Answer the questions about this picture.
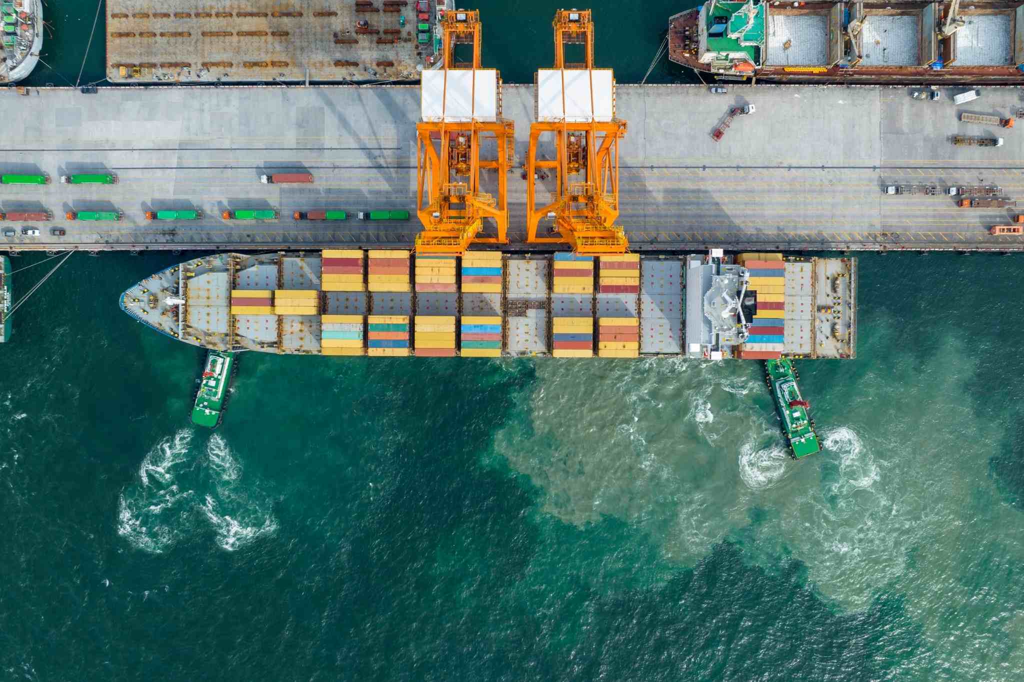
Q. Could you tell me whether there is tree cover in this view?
No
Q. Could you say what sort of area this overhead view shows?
port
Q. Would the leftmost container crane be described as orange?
Yes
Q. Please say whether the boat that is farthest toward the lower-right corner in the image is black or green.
green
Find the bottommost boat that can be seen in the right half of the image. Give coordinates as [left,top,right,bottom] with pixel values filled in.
[767,359,823,459]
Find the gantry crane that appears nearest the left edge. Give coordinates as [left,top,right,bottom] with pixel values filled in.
[404,6,521,255]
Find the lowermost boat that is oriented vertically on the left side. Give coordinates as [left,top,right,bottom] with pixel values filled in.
[190,347,235,430]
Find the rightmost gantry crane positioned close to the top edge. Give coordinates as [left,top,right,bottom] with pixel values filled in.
[516,6,636,255]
